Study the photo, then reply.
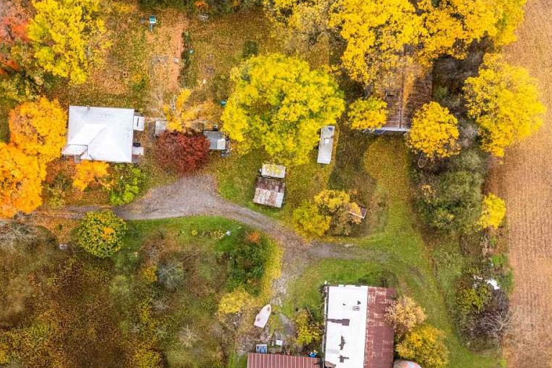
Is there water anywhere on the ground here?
No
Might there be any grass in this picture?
Yes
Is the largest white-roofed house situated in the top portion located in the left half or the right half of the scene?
left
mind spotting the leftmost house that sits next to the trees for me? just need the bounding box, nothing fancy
[62,105,144,162]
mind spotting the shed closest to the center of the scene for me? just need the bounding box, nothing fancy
[253,178,284,210]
